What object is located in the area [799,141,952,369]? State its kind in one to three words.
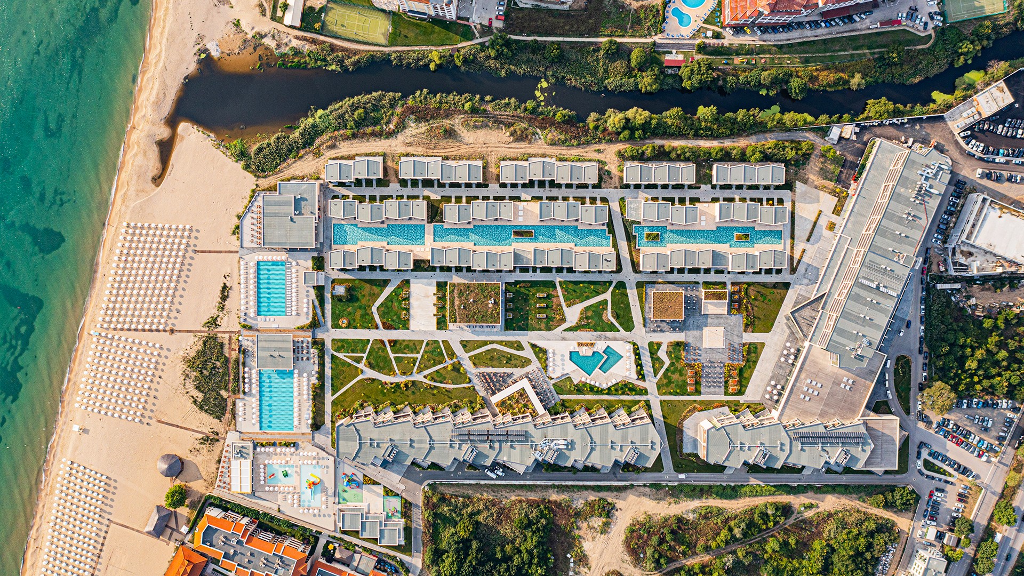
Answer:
building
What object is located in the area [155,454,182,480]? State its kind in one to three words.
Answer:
gazebo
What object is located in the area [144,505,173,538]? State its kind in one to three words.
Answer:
shed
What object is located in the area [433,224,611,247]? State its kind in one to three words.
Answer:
swimming pool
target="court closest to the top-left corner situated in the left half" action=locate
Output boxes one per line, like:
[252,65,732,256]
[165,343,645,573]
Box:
[319,0,392,45]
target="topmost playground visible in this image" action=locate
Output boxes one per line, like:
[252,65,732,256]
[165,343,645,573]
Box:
[339,460,363,503]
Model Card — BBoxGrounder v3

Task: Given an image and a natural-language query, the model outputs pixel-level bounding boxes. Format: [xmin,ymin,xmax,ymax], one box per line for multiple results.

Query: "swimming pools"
[258,369,294,431]
[682,0,707,9]
[433,224,611,247]
[569,351,605,376]
[332,223,425,246]
[599,345,624,374]
[633,225,783,248]
[670,7,692,28]
[256,261,286,316]
[300,464,321,508]
[266,464,295,485]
